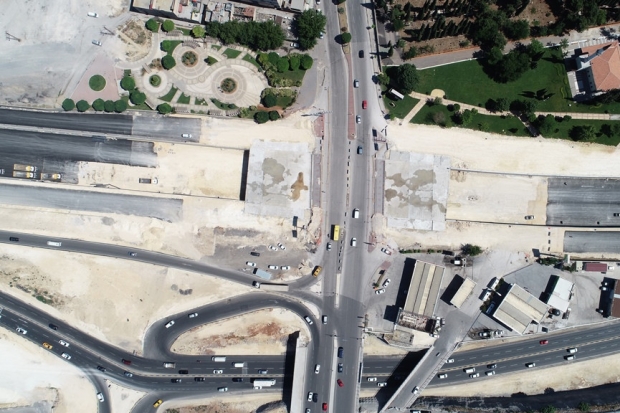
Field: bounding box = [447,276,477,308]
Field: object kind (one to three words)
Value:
shed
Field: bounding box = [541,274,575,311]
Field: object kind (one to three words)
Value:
building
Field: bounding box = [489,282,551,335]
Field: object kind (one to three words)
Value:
building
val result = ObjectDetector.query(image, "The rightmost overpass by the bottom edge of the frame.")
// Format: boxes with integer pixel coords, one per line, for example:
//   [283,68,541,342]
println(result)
[378,332,464,413]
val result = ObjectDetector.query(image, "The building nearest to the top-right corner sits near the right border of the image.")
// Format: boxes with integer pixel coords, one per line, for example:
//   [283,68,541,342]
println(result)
[572,41,620,98]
